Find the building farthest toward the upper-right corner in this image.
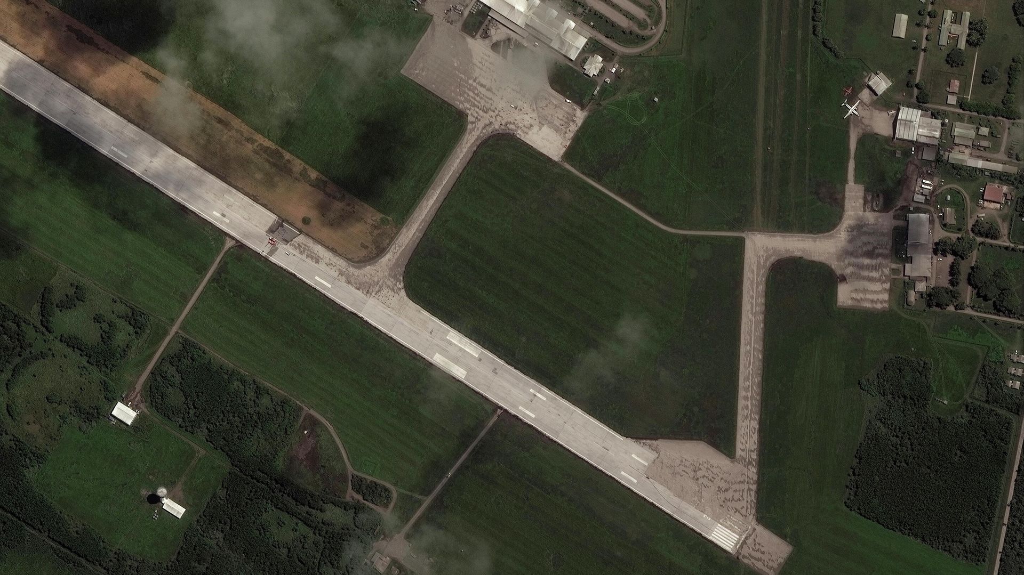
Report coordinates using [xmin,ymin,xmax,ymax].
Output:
[939,9,971,49]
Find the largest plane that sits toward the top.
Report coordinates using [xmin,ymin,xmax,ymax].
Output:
[841,99,859,118]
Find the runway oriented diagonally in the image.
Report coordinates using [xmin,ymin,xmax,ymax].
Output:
[0,38,751,555]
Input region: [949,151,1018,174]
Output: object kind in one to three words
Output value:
building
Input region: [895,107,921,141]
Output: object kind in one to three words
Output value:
hangar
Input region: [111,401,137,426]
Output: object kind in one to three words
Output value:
shed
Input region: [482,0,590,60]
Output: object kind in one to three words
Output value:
building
